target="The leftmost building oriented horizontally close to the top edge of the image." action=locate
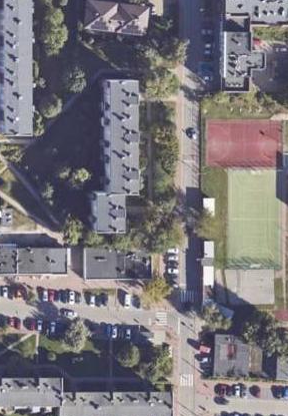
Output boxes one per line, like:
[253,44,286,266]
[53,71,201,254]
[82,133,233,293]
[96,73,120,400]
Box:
[84,0,150,36]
